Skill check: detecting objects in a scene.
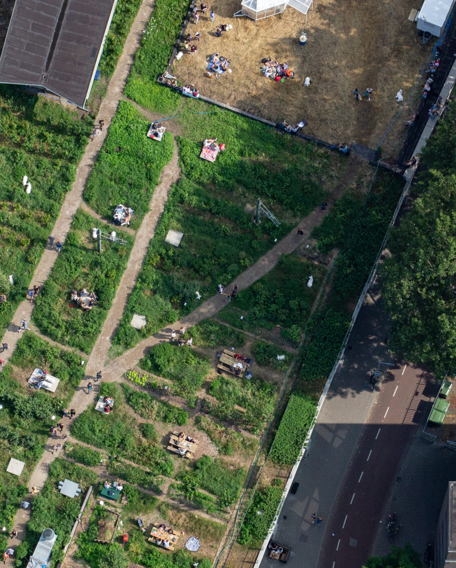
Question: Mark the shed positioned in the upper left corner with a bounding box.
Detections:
[0,0,113,111]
